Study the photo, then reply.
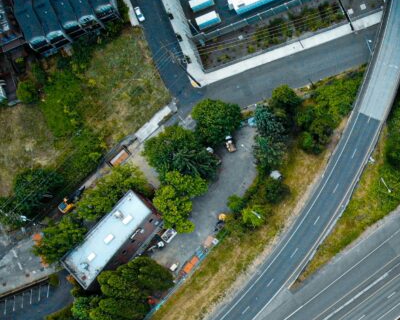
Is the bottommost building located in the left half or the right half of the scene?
left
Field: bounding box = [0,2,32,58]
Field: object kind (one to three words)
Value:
house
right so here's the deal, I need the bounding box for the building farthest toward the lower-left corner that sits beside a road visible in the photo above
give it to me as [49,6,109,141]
[59,189,164,293]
